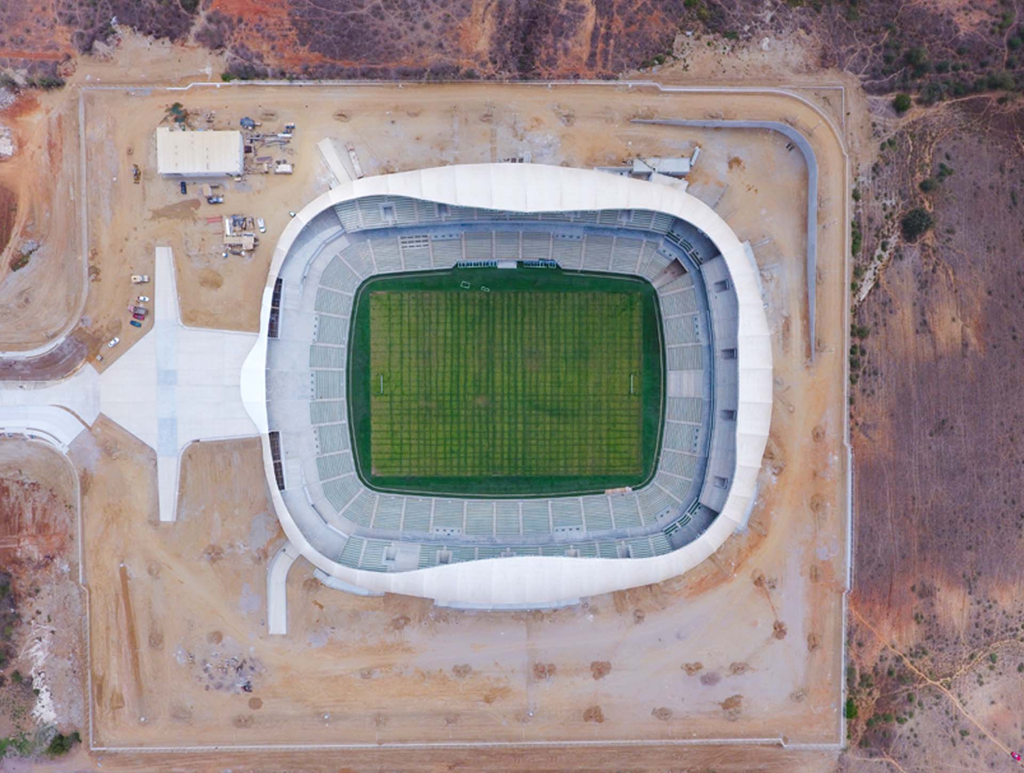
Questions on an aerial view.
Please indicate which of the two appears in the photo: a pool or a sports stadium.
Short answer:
sports stadium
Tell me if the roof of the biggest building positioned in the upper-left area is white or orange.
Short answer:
white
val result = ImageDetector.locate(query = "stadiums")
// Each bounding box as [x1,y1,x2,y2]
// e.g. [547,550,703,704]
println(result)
[240,163,773,611]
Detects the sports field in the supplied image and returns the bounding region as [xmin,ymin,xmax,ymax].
[346,263,667,502]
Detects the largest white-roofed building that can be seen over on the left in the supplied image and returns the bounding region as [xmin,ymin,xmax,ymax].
[157,127,246,177]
